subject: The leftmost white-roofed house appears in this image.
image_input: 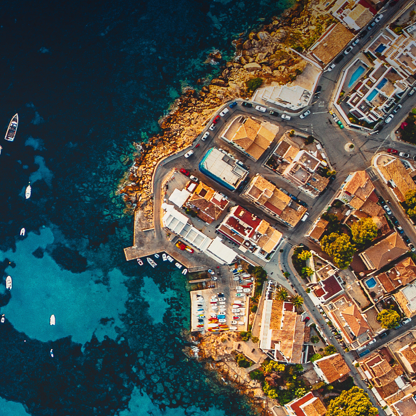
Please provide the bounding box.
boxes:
[160,209,213,253]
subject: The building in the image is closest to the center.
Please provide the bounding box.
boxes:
[180,181,230,225]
